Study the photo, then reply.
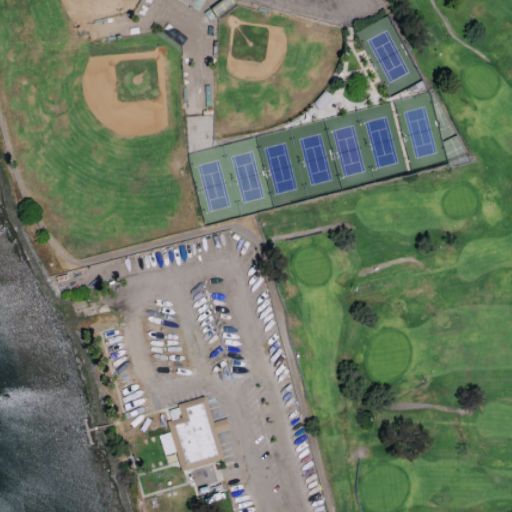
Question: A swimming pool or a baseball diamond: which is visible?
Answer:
baseball diamond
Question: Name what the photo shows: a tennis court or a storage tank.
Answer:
tennis court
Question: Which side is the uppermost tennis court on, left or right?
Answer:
right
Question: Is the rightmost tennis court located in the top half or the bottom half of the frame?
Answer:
top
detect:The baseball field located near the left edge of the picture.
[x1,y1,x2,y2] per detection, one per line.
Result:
[0,0,204,259]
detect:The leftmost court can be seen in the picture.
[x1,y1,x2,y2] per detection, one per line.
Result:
[189,144,240,224]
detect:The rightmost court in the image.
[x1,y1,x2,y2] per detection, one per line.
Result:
[432,92,468,163]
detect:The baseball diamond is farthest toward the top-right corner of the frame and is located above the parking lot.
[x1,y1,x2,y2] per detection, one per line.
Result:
[214,7,342,140]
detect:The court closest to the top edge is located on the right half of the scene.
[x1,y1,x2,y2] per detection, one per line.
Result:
[356,16,421,97]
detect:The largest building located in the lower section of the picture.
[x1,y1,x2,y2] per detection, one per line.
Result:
[168,396,230,470]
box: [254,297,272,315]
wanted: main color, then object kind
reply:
white boat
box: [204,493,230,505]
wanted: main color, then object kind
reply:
white boat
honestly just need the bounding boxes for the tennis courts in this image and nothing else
[360,102,408,180]
[223,135,274,214]
[291,118,341,196]
[189,144,240,224]
[325,108,375,188]
[432,92,468,163]
[396,92,448,170]
[356,16,421,97]
[256,126,307,206]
